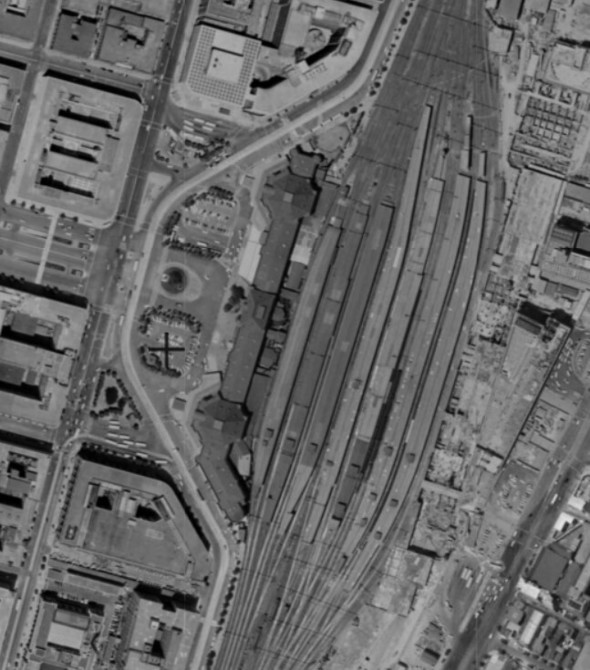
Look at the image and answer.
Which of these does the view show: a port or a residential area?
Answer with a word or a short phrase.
residential area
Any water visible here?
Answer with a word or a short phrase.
No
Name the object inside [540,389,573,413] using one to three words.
house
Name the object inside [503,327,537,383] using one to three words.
building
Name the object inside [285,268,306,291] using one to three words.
shed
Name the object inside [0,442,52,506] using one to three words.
building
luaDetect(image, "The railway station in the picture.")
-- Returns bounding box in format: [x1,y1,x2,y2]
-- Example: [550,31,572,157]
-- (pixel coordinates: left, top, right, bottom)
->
[193,152,319,521]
